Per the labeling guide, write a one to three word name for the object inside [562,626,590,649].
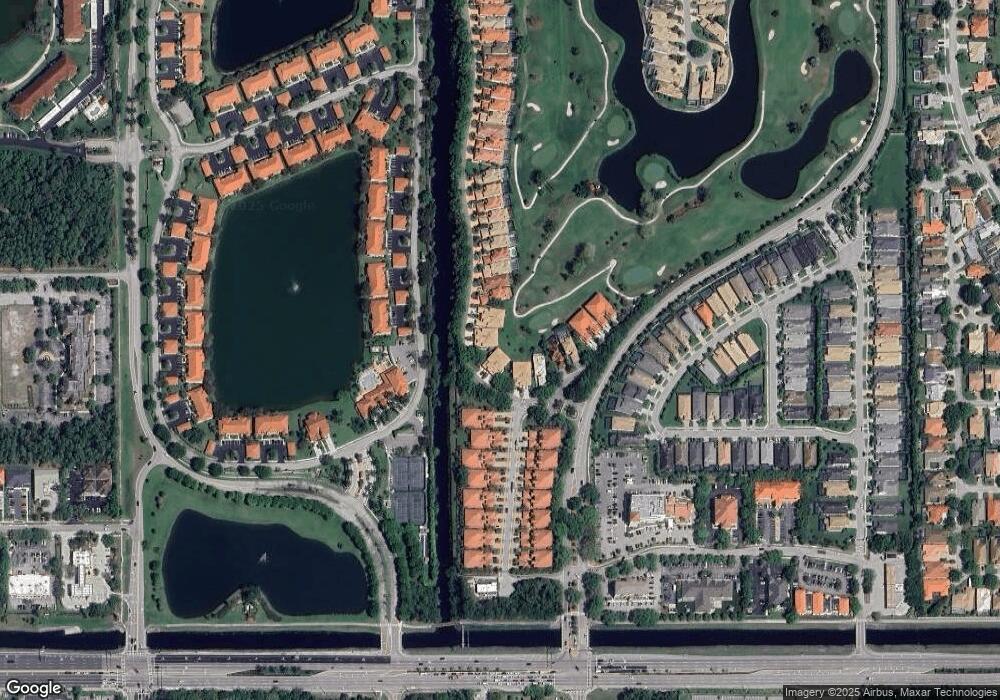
bridge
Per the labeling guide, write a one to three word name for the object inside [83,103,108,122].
swimming pool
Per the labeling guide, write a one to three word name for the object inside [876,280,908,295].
house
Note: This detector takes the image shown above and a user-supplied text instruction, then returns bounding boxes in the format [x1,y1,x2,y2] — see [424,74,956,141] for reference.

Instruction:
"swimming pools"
[358,371,378,391]
[83,103,108,122]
